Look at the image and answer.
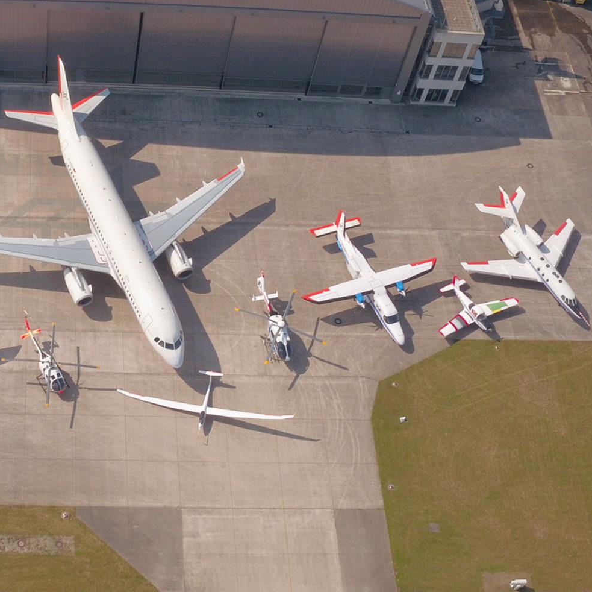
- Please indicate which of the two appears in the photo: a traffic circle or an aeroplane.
aeroplane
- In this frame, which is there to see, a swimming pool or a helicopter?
helicopter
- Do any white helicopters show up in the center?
Yes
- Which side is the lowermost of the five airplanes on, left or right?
left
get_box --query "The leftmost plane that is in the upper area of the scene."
[0,54,246,369]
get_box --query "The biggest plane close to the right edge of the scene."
[456,186,589,331]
